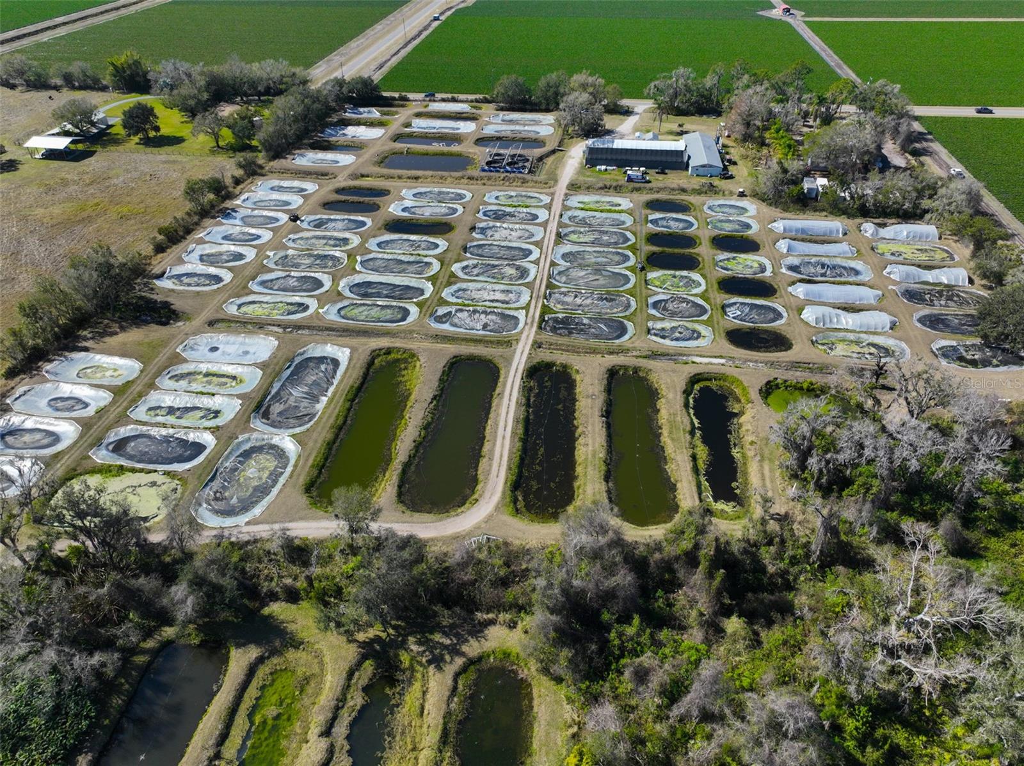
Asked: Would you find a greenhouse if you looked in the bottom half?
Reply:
No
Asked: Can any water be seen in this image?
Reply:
Yes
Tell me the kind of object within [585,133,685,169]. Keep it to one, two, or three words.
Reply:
greenhouse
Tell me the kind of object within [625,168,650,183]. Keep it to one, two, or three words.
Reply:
vehicle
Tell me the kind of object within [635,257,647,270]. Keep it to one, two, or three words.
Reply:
vehicle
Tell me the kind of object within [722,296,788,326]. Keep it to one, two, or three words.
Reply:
pond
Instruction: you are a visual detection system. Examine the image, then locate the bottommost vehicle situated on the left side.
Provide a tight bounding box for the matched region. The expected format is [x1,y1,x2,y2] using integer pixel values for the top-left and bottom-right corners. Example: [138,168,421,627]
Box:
[286,210,301,222]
